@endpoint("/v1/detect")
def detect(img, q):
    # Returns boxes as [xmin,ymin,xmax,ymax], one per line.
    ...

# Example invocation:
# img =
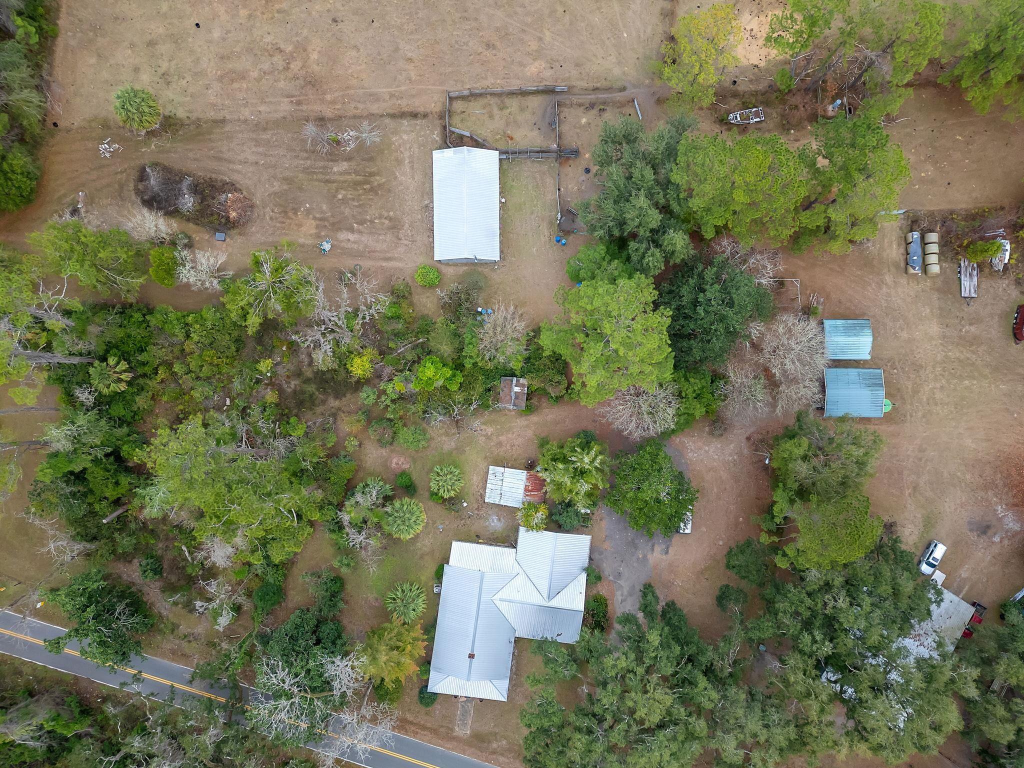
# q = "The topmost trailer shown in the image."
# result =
[955,262,980,306]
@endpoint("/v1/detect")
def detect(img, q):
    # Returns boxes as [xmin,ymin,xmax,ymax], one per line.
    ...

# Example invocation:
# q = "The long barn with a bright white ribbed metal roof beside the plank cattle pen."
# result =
[432,146,500,263]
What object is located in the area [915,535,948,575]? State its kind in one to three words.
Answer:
car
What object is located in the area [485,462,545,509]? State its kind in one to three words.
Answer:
shed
